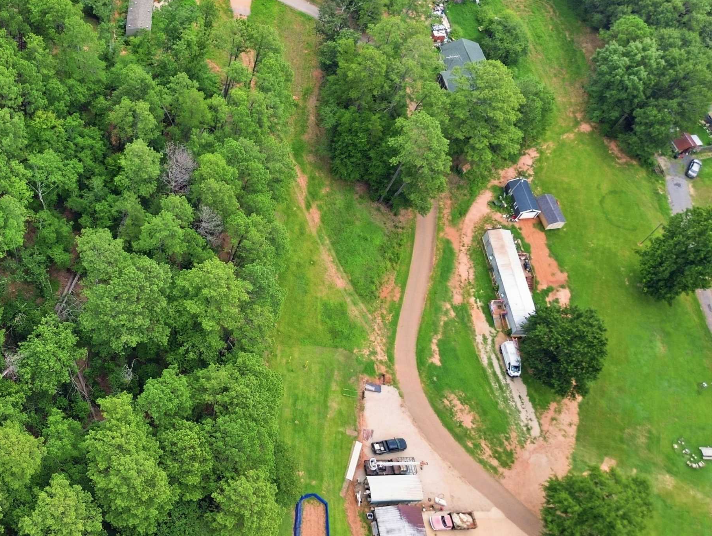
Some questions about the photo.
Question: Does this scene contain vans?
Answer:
Yes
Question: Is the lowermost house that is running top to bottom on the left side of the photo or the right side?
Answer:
right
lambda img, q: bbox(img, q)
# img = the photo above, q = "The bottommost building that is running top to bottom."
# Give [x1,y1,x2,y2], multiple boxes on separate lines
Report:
[477,229,539,338]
